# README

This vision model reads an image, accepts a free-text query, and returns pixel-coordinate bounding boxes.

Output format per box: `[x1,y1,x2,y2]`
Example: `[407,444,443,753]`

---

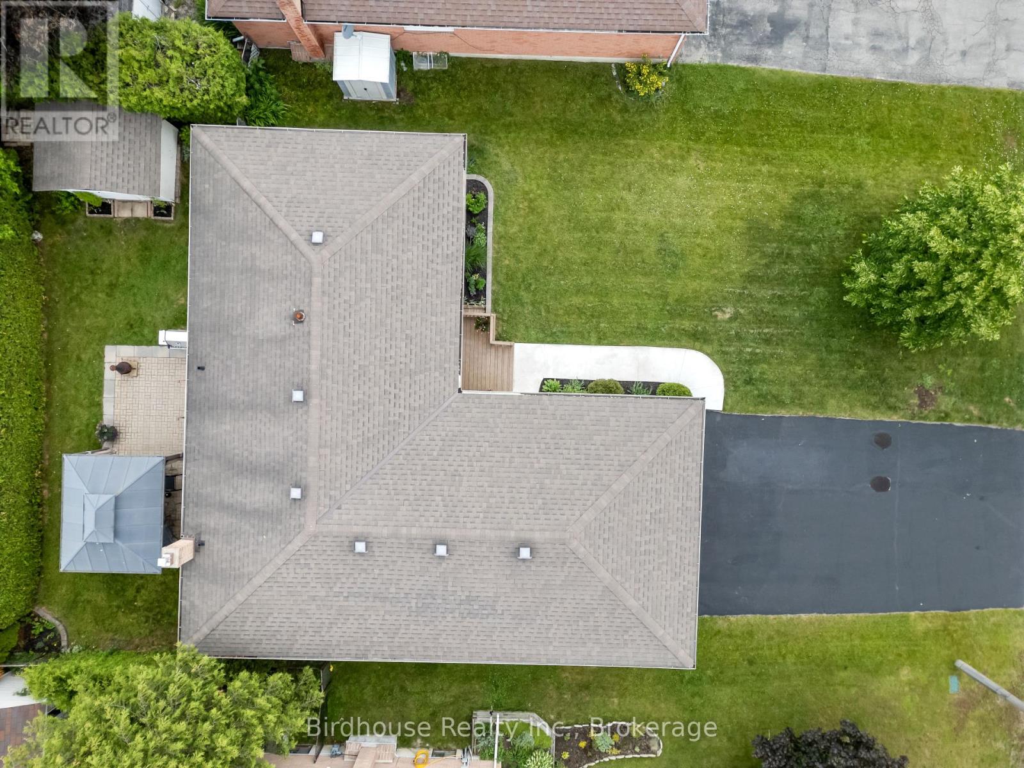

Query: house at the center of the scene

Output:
[158,125,705,669]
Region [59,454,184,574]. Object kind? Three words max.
gazebo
